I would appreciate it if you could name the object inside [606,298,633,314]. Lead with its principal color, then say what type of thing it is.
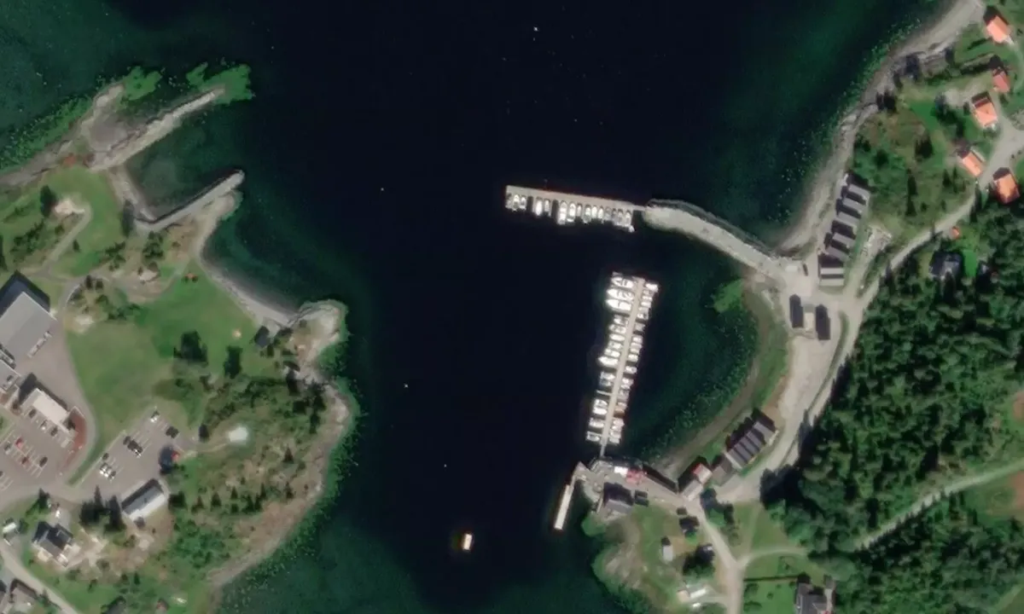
white boat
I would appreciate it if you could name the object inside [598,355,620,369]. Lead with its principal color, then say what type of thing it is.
white boat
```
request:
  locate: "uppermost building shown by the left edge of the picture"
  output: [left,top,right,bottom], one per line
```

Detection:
[0,292,56,364]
